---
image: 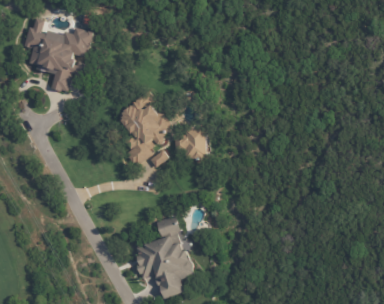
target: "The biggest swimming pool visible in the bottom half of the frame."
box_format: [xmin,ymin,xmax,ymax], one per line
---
[191,209,205,230]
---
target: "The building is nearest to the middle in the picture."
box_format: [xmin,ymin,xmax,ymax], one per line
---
[177,131,209,160]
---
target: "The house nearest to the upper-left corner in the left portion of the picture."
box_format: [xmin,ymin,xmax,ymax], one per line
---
[28,18,98,94]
